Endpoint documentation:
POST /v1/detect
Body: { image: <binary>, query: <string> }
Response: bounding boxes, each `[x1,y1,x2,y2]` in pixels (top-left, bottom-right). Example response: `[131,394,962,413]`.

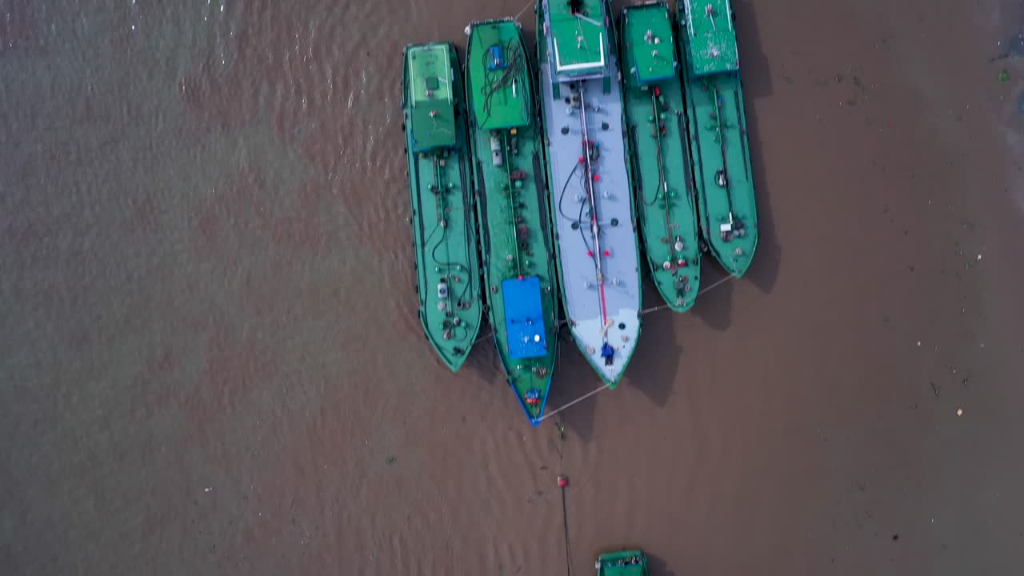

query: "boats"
[673,0,758,279]
[401,42,482,373]
[619,2,702,313]
[465,17,559,427]
[536,0,643,390]
[596,547,648,576]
